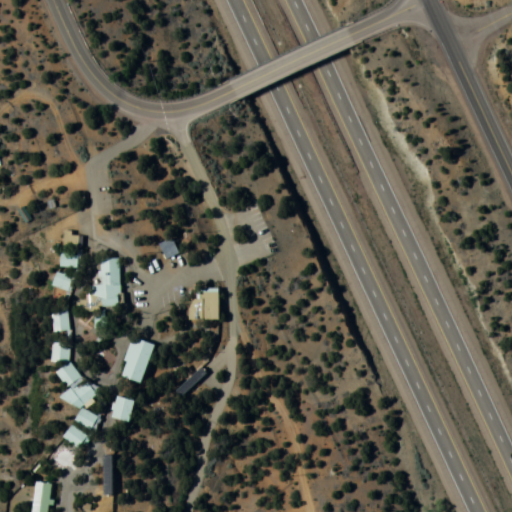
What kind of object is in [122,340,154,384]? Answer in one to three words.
house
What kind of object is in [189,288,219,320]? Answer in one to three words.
building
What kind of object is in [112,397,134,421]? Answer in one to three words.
house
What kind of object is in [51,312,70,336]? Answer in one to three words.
building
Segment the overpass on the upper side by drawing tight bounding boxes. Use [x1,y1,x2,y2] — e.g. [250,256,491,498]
[229,24,358,98]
